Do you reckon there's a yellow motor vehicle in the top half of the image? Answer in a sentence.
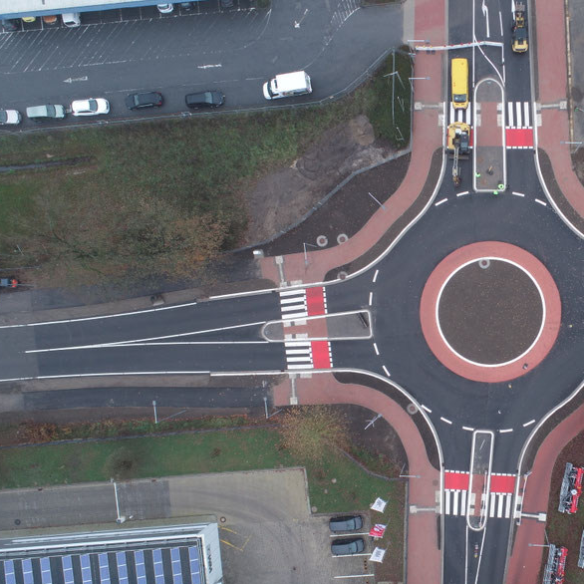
Yes, there is a yellow motor vehicle in the top half of the image.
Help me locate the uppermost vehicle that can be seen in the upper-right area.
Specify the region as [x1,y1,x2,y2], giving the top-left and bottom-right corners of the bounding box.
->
[511,6,530,54]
